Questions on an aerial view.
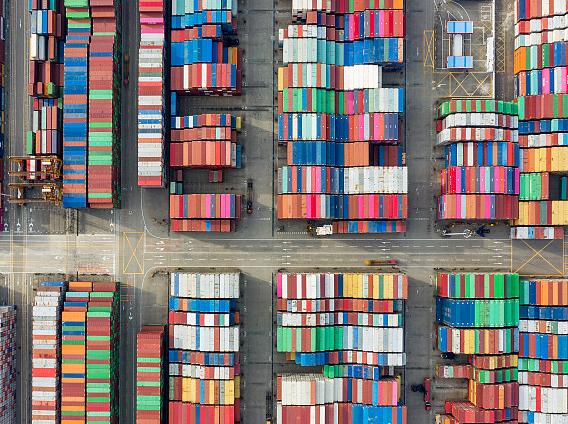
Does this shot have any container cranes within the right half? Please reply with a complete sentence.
No, no container crane appears within the right half.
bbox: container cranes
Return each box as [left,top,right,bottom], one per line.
[2,183,64,207]
[2,155,64,181]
